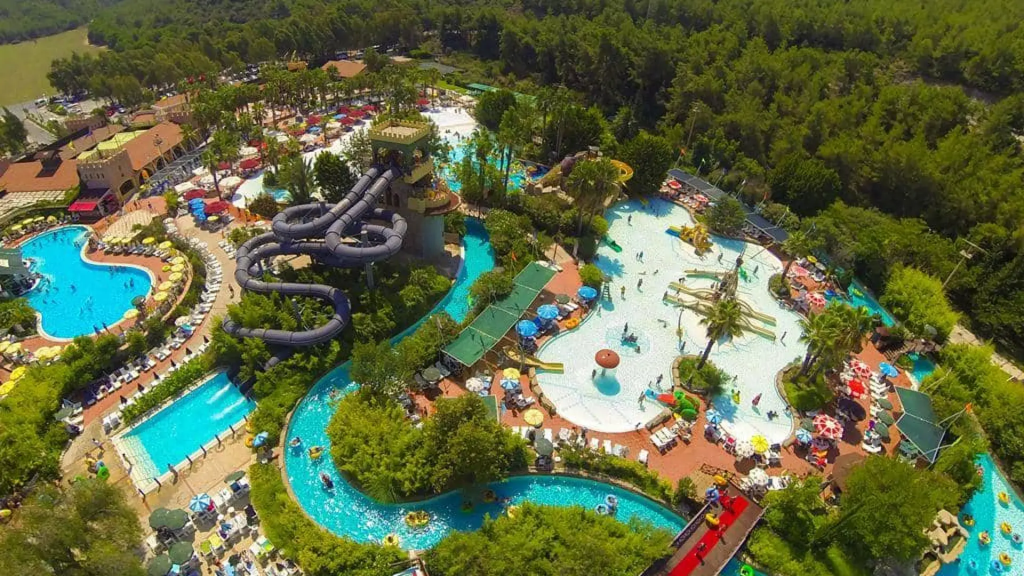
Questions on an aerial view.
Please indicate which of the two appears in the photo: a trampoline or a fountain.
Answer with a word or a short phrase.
fountain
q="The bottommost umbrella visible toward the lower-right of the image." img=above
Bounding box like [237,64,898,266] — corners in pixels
[745,468,769,493]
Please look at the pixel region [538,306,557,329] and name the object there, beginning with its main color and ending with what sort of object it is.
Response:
blue umbrella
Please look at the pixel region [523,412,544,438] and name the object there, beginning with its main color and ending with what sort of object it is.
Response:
yellow umbrella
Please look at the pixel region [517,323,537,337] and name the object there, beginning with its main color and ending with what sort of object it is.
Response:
blue umbrella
